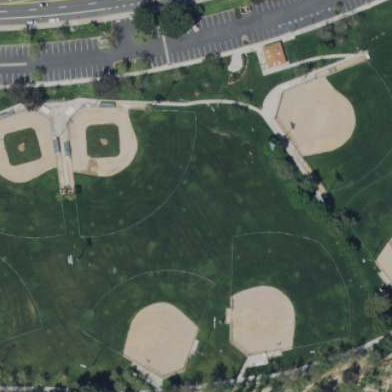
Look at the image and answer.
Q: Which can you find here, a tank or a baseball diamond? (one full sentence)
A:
The one in the frame is a baseball diamond.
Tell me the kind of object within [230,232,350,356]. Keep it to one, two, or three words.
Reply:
baseball field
